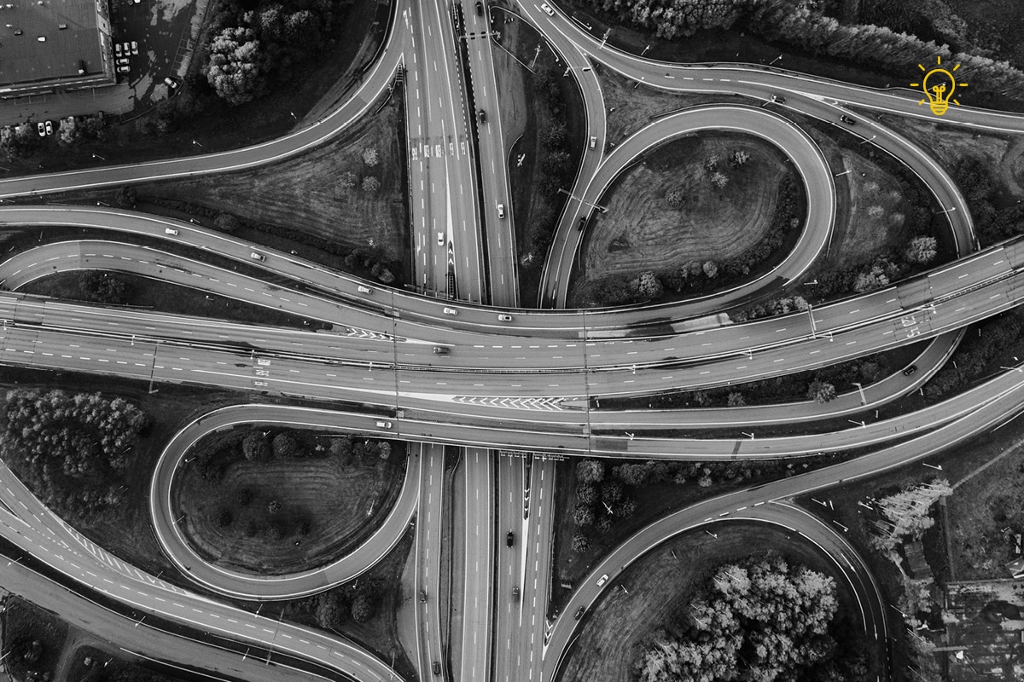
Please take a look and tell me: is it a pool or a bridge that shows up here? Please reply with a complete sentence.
Visible in the photo is a bridge.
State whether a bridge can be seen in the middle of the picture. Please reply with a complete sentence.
Yes, a bridge shows up in the middle of the picture.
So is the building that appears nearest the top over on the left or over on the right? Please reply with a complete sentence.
You can find the building that appears nearest the top on the left side of the picture.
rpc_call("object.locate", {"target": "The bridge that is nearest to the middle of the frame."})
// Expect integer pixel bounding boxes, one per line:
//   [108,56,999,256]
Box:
[394,290,590,457]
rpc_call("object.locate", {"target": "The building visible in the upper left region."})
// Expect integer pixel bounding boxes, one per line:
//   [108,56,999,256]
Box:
[0,0,116,97]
